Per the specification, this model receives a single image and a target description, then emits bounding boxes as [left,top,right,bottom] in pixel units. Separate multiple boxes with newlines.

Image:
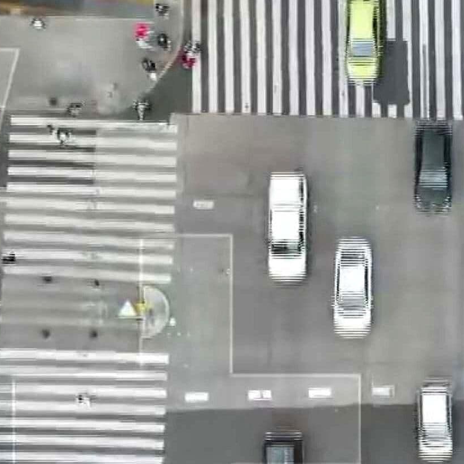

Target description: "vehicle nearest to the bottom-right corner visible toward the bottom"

[413,378,457,462]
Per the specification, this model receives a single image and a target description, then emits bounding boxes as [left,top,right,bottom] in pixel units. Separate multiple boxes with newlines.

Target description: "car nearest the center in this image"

[264,171,310,282]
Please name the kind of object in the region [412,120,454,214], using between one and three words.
car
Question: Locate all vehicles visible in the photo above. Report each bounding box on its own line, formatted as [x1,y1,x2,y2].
[413,378,457,462]
[265,430,303,464]
[330,238,375,338]
[412,120,454,214]
[264,171,310,282]
[341,0,384,86]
